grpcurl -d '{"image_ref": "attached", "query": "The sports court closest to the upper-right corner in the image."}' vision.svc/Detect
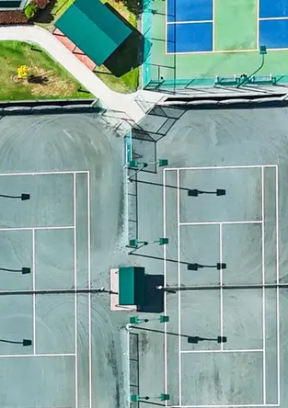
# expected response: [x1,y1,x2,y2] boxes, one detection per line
[147,0,288,86]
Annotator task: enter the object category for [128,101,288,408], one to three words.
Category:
tennis court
